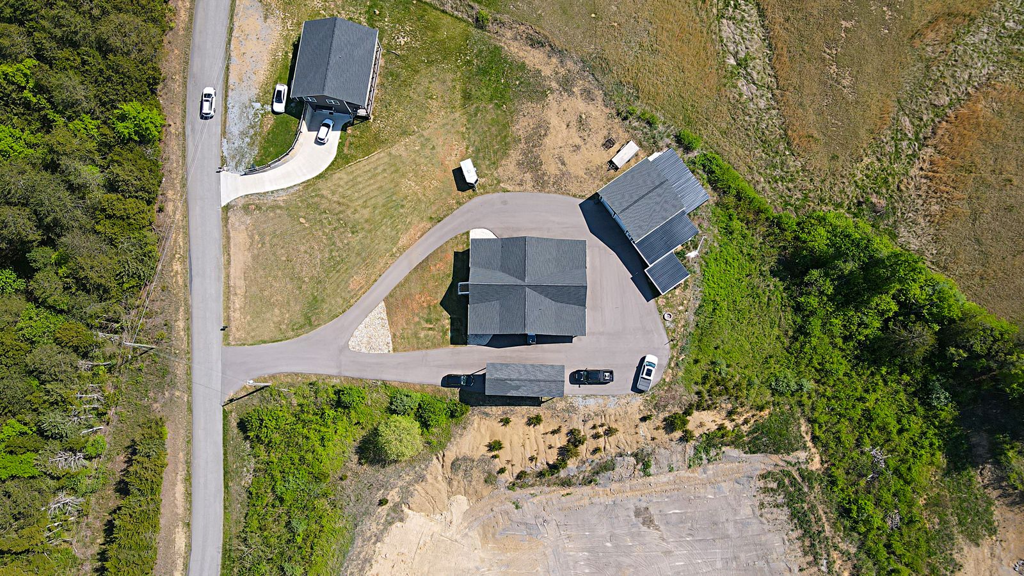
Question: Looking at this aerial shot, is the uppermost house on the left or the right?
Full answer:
It is on the left.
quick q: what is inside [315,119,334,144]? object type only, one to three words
car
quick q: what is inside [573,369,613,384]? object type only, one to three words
vehicle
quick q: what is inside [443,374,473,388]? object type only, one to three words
car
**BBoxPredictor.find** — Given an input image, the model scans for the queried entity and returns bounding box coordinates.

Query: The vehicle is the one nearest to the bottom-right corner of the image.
[636,354,657,394]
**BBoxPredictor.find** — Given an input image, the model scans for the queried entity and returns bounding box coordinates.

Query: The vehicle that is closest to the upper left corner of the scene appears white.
[200,90,216,117]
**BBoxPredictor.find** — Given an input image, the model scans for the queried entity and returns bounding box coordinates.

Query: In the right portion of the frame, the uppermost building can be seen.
[597,148,709,266]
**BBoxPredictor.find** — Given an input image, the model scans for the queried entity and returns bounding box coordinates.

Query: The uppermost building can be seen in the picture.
[291,17,386,134]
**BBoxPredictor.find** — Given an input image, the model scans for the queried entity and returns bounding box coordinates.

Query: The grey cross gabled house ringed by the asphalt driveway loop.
[457,236,588,348]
